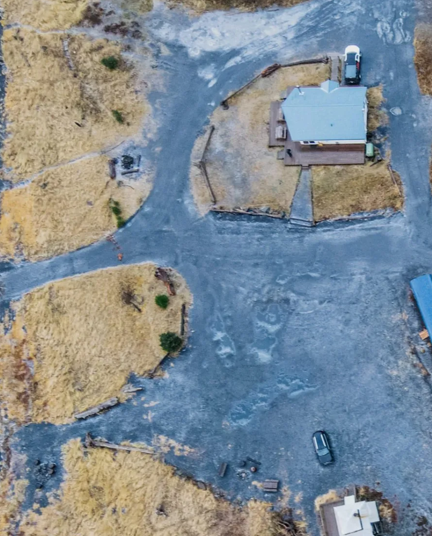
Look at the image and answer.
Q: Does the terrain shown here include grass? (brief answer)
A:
Yes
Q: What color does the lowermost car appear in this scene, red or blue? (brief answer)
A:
blue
